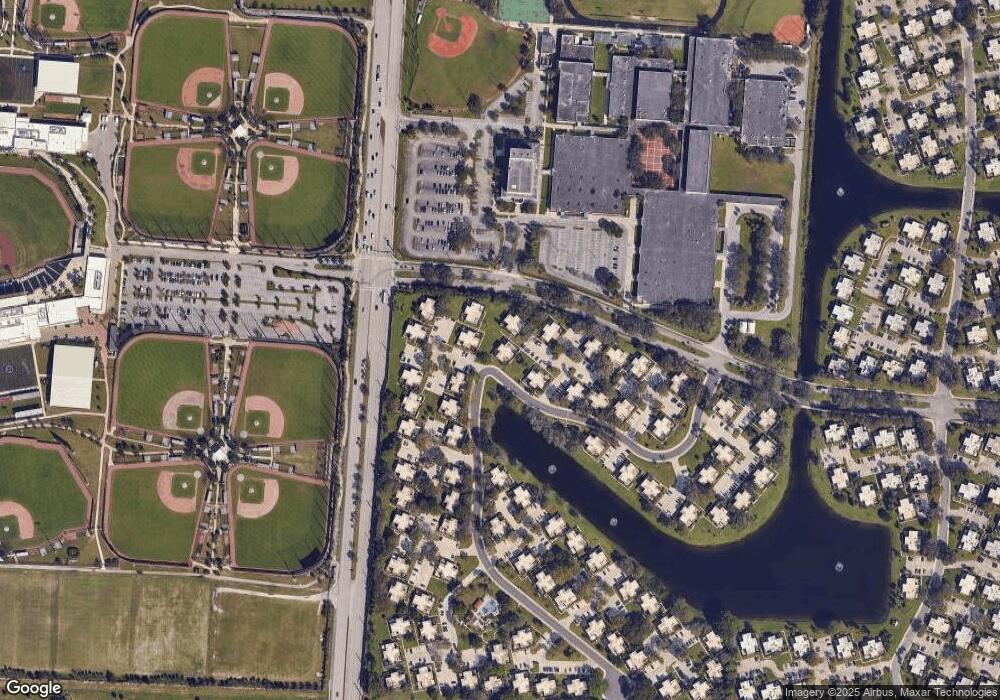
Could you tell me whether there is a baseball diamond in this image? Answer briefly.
Yes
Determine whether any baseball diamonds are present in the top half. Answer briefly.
Yes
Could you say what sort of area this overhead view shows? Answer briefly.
residential area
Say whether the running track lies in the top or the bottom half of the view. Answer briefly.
top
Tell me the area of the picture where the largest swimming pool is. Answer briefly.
bottom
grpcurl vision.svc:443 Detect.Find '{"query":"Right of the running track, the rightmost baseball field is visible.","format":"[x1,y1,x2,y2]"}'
[722,0,816,51]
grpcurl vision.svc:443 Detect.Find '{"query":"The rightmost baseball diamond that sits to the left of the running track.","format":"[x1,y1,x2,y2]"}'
[409,0,522,112]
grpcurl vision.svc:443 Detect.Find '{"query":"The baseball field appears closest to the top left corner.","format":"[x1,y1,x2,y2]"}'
[27,0,138,40]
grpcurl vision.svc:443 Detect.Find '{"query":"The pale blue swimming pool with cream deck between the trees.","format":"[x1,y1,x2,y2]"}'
[479,594,501,615]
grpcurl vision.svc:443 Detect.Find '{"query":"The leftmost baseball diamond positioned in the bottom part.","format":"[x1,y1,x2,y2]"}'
[0,437,92,554]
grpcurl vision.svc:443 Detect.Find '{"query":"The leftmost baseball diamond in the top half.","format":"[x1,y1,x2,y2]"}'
[0,166,74,282]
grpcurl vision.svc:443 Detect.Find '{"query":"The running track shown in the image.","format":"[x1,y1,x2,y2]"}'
[563,0,727,30]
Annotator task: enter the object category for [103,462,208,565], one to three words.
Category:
baseball field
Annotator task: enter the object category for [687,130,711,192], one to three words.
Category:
building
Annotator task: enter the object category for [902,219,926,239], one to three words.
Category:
house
